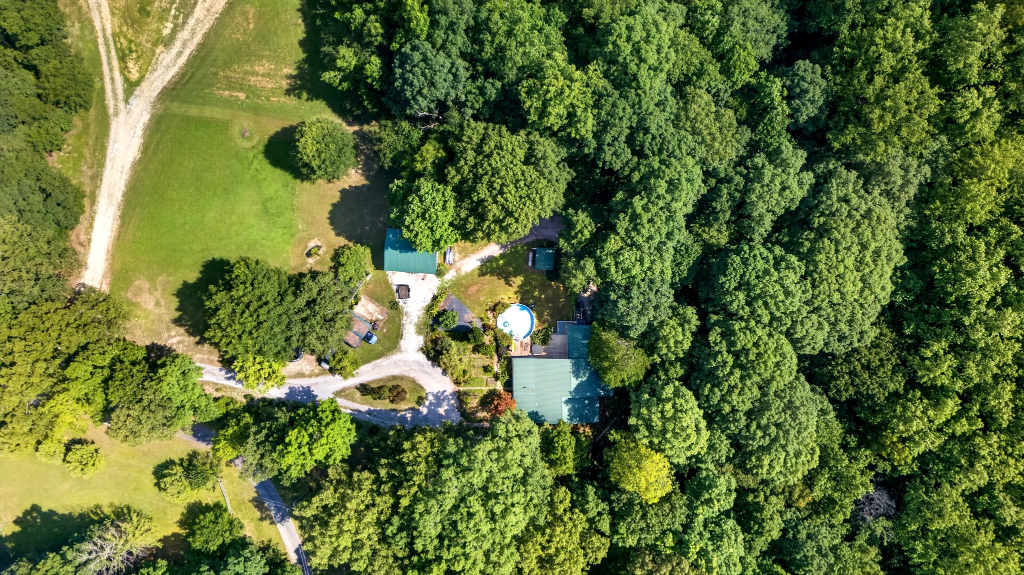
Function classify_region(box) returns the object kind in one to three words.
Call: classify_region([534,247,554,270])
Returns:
shed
